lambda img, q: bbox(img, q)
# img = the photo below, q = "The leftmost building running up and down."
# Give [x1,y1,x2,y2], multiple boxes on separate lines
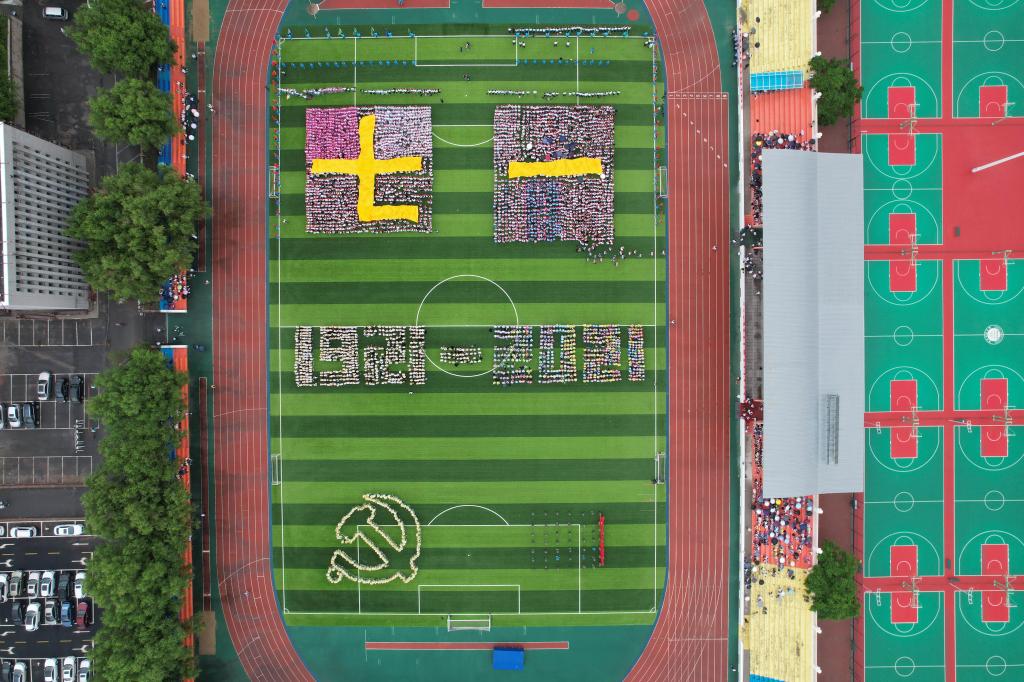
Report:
[0,121,91,309]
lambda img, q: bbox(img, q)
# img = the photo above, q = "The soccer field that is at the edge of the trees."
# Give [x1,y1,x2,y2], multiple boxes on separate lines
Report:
[270,24,666,626]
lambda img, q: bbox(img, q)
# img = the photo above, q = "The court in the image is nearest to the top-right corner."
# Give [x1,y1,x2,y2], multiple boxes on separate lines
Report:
[953,0,1024,118]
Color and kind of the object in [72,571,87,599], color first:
white car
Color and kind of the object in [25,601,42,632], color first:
white car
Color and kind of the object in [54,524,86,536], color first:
white vehicle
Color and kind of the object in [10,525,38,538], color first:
white vehicle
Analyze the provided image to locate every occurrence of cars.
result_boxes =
[0,573,9,604]
[68,376,83,403]
[54,524,86,536]
[57,574,72,601]
[10,601,25,626]
[22,402,38,429]
[0,403,7,430]
[55,378,69,402]
[26,571,41,599]
[72,571,87,599]
[43,657,59,682]
[0,659,14,682]
[37,373,52,400]
[10,525,38,538]
[41,570,56,599]
[7,403,22,428]
[59,600,74,627]
[8,570,24,598]
[77,659,92,682]
[25,601,42,632]
[12,660,28,682]
[62,655,77,682]
[44,599,59,624]
[75,601,90,630]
